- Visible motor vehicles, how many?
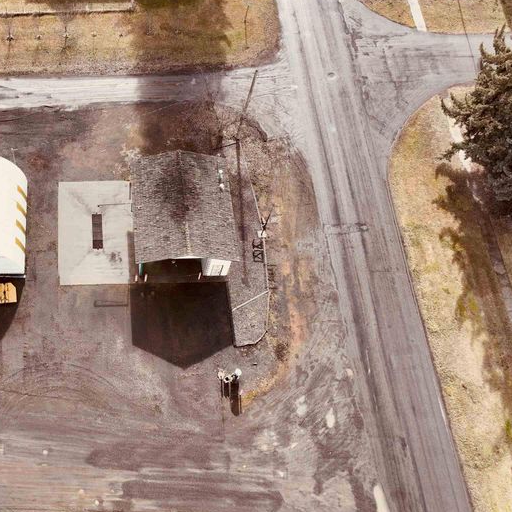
none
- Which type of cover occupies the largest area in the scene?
paved ground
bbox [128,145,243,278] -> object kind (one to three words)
building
